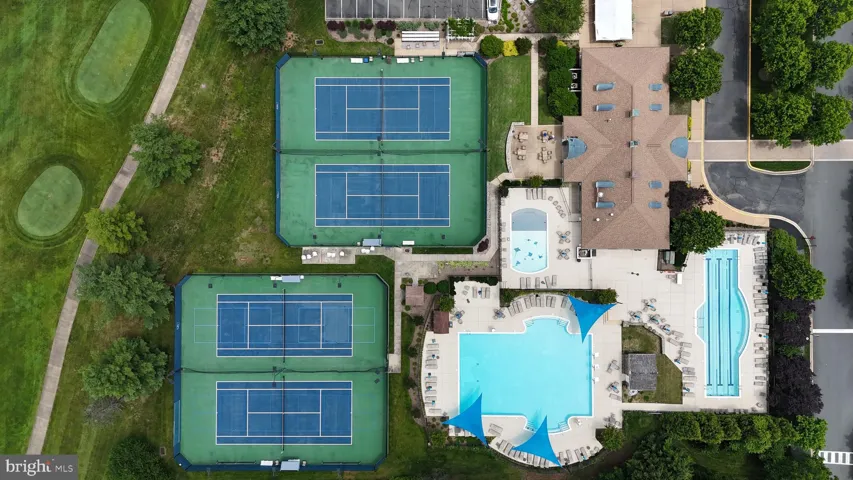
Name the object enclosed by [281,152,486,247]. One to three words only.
tennis court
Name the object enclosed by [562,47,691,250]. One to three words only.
building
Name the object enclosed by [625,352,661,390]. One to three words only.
shed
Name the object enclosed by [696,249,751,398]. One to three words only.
swimming pool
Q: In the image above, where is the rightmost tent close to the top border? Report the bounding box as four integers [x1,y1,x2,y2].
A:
[591,0,632,45]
